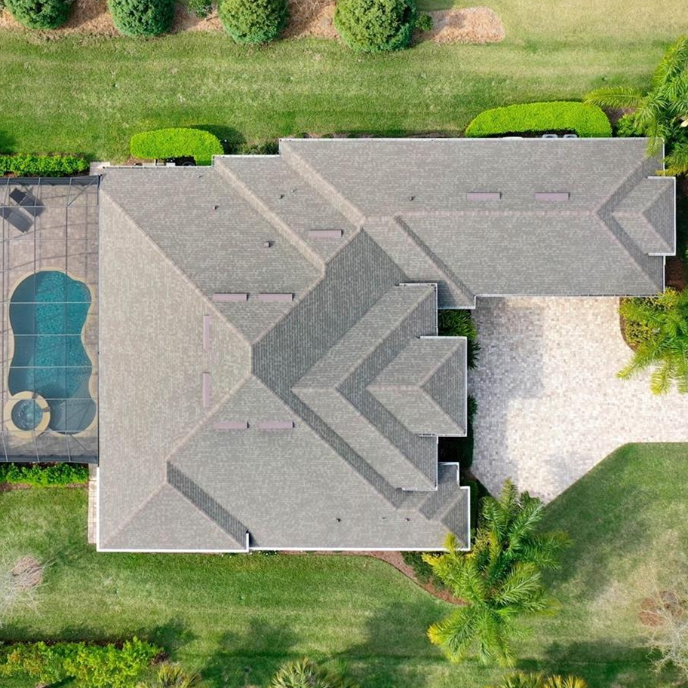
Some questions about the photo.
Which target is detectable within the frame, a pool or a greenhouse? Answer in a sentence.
I can see a pool in this picture.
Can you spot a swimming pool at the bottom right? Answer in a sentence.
No, no swimming pool is visible at the bottom right.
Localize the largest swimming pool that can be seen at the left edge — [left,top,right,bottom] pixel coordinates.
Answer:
[4,265,97,441]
